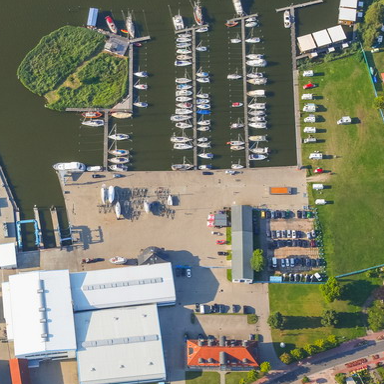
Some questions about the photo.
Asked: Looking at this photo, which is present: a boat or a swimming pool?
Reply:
boat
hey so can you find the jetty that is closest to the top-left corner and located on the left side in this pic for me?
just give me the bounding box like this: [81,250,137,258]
[65,27,150,113]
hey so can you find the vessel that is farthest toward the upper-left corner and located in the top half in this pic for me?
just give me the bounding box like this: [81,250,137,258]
[102,14,117,34]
